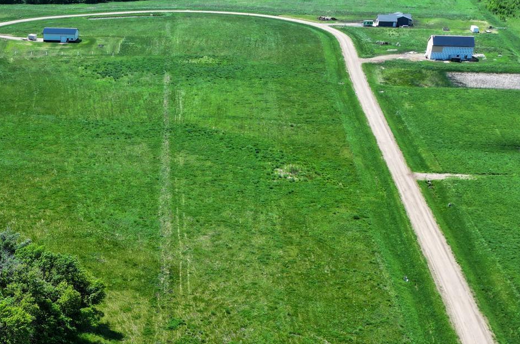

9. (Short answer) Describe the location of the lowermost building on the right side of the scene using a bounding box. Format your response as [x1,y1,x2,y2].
[423,34,476,60]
